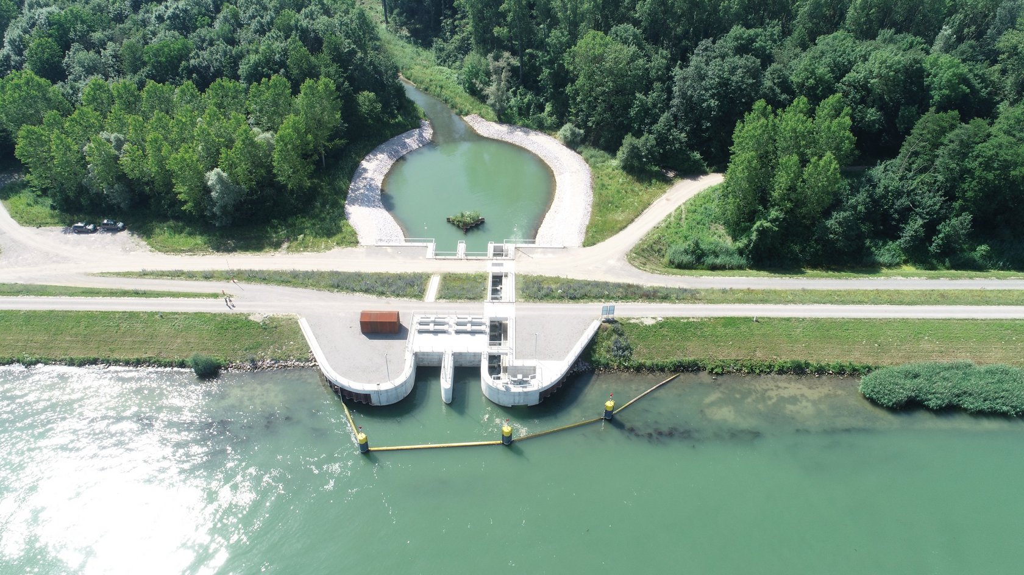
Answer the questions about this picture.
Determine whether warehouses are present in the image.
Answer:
No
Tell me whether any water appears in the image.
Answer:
Yes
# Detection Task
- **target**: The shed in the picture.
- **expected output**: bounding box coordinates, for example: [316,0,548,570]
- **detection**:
[359,309,398,333]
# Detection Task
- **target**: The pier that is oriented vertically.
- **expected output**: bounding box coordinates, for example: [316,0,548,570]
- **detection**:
[439,349,453,404]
